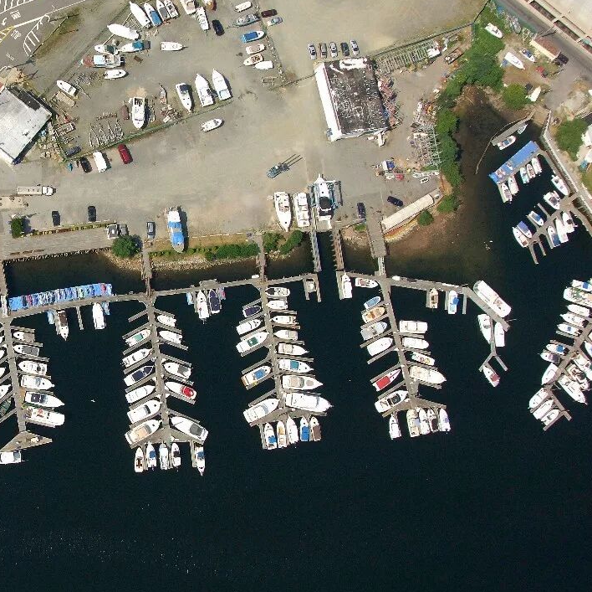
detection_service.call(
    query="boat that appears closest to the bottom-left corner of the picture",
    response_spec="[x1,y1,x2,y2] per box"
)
[0,451,24,464]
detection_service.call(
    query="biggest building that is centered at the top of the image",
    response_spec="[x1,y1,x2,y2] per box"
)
[313,59,389,144]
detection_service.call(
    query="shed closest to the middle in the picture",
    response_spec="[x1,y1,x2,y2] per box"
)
[381,196,435,234]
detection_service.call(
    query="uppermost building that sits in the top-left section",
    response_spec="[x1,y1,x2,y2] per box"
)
[0,87,51,163]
